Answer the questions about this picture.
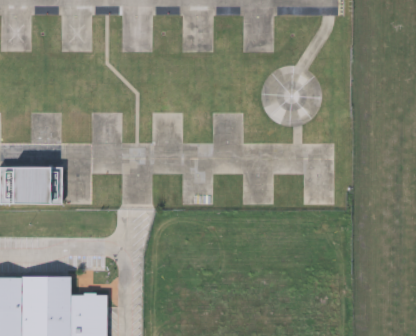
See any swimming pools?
No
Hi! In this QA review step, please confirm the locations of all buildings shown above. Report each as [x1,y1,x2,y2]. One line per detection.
[0,166,63,205]
[0,277,72,336]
